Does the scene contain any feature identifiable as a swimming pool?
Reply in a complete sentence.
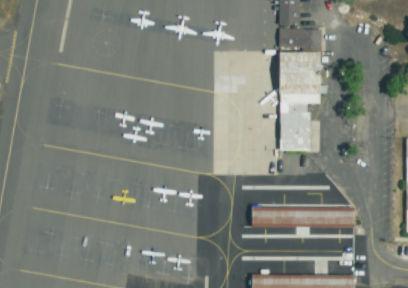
No, the picture doesn't show any swimming pool.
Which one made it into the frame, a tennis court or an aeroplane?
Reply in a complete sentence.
The one in the frame is an aeroplane.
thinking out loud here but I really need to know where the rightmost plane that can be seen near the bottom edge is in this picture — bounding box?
[166,256,192,274]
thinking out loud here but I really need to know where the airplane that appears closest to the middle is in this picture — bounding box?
[192,128,210,144]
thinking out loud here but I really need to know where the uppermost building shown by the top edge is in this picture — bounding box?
[280,0,300,26]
